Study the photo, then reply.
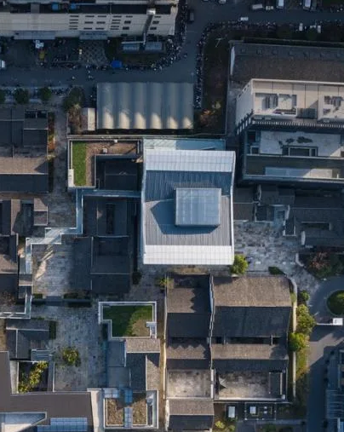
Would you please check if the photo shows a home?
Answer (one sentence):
Yes, a home appears in the view.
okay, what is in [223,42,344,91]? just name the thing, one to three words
building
